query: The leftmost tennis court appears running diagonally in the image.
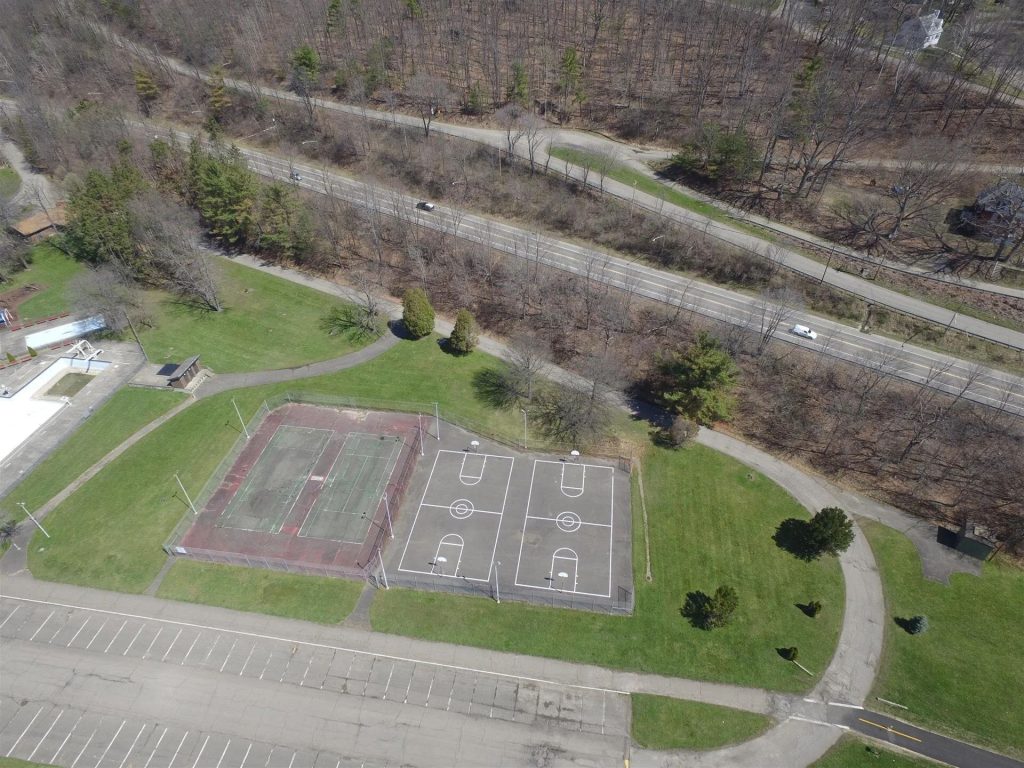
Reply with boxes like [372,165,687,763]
[216,425,334,534]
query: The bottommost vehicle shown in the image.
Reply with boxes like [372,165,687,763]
[790,321,819,341]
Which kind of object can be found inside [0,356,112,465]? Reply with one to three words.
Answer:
swimming pool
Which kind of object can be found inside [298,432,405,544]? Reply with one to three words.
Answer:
tennis court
